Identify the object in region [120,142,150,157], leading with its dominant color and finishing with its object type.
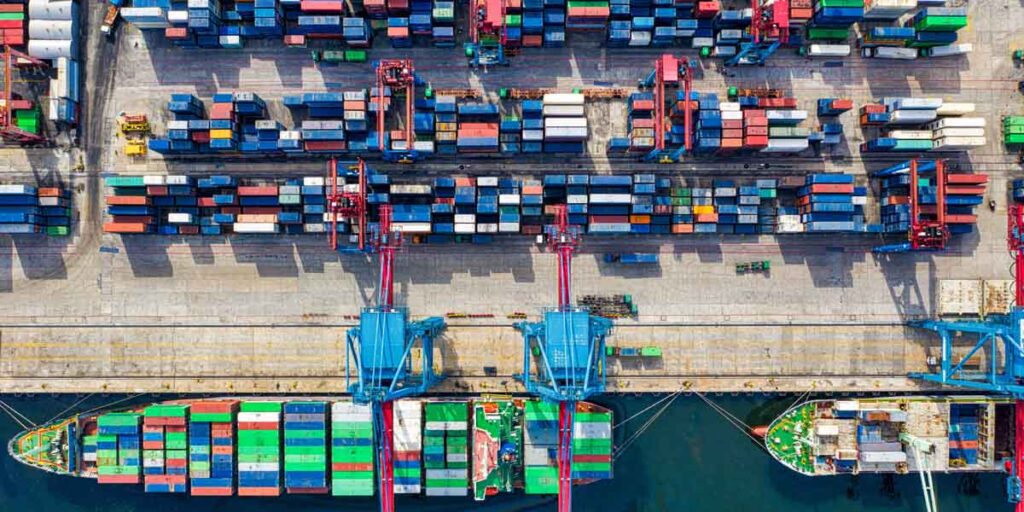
yellow work vehicle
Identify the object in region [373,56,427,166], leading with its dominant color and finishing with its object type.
red crane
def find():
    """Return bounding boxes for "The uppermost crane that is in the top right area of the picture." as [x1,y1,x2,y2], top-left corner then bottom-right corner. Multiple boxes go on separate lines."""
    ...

[727,0,795,67]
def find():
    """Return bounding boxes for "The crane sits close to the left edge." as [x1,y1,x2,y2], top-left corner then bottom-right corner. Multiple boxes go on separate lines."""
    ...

[0,45,55,145]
